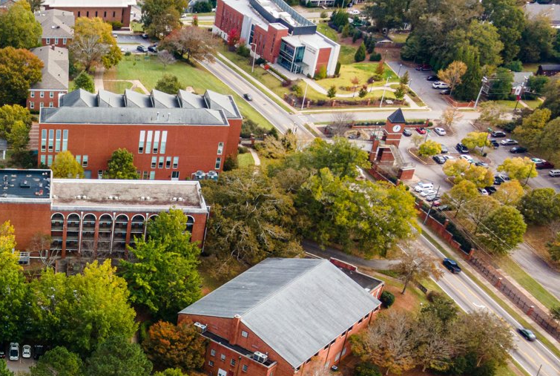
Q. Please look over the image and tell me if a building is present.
Yes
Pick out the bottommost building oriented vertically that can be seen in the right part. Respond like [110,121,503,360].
[381,104,409,166]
